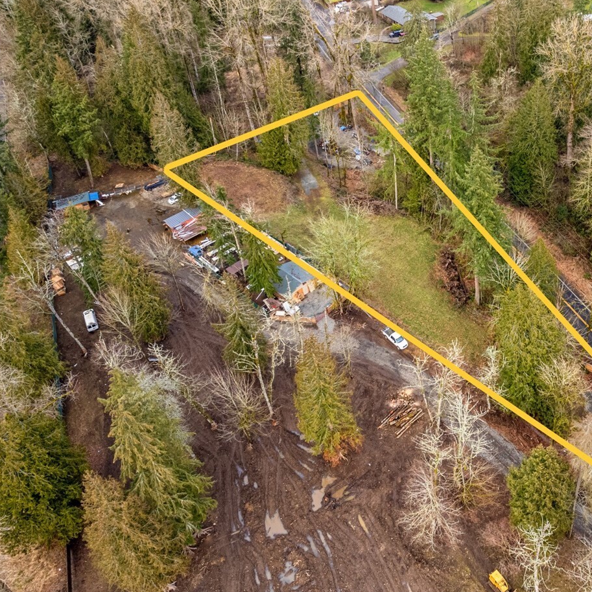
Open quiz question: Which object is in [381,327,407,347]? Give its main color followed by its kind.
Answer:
white vehicle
